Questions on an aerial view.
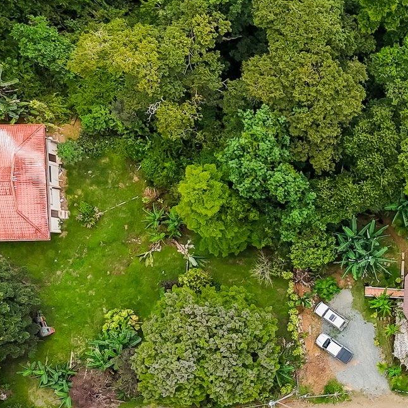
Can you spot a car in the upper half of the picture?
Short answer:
No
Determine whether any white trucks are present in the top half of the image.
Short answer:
No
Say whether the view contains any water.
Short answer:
No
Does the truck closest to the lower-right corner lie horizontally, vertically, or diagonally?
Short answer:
diagonally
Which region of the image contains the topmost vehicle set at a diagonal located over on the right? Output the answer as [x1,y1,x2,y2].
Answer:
[312,302,350,333]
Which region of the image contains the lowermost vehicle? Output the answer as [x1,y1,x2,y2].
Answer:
[313,332,356,367]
